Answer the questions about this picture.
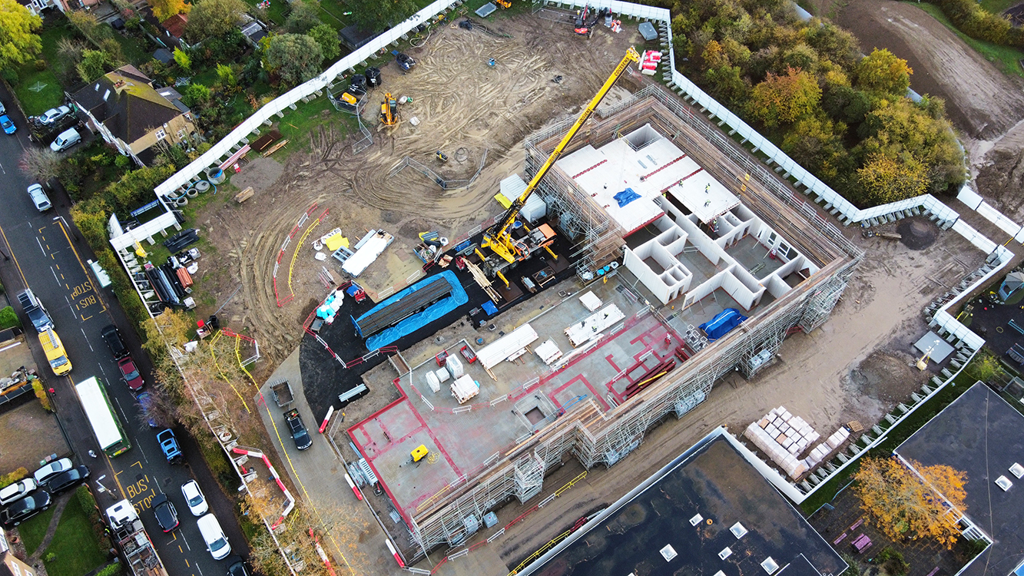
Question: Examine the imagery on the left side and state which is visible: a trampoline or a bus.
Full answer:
There is a bus on the left side.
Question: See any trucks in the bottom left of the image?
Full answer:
Yes, a truck shows up in the bottom left of the image.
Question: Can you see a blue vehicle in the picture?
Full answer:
Yes, you can see a blue vehicle in this photo.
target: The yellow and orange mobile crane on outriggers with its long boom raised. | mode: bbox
[477,42,646,322]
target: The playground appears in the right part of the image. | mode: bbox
[951,263,1024,387]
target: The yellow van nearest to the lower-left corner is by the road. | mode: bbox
[33,327,72,379]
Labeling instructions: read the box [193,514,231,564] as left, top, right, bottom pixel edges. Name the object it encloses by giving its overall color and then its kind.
white van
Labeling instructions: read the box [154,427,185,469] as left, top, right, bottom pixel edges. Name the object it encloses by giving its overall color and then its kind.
blue car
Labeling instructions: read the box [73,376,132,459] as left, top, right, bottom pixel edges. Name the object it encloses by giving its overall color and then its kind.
white bus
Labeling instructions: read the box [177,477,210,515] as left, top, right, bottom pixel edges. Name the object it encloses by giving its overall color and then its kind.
white car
